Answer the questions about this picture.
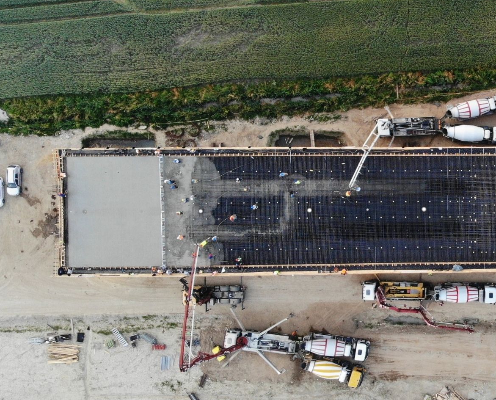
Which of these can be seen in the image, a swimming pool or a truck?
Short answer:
truck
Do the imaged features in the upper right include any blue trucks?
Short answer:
No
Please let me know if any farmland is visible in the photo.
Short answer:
Yes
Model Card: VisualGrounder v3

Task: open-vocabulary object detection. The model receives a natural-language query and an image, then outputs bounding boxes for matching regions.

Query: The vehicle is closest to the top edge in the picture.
[444,95,496,123]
